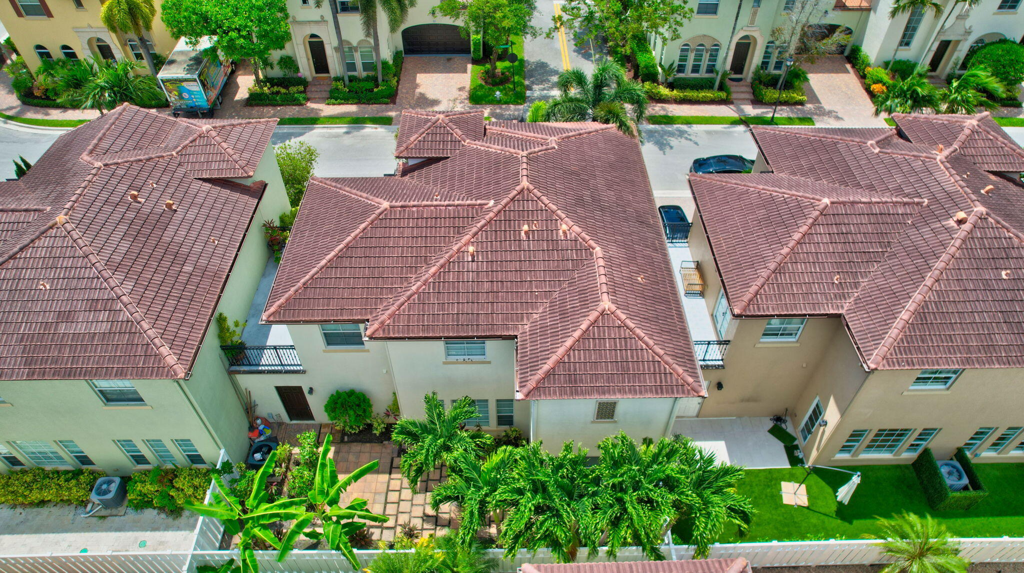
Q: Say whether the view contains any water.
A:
No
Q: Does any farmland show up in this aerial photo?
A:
No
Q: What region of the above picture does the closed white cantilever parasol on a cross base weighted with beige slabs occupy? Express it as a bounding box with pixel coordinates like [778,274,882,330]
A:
[780,461,857,508]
